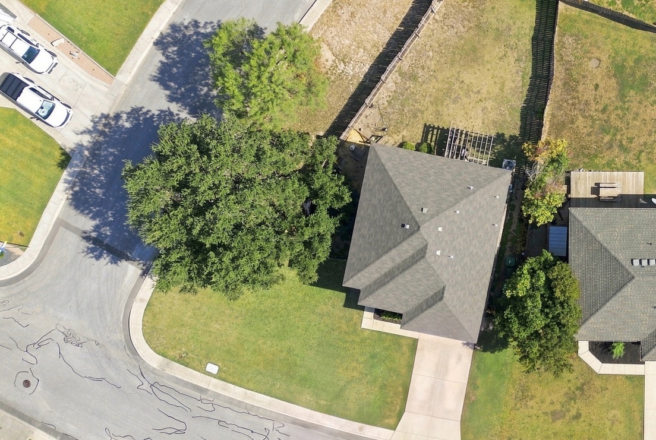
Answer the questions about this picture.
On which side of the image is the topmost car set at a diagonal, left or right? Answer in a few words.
left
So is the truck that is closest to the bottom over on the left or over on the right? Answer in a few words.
left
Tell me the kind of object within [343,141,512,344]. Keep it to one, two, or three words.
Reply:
house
